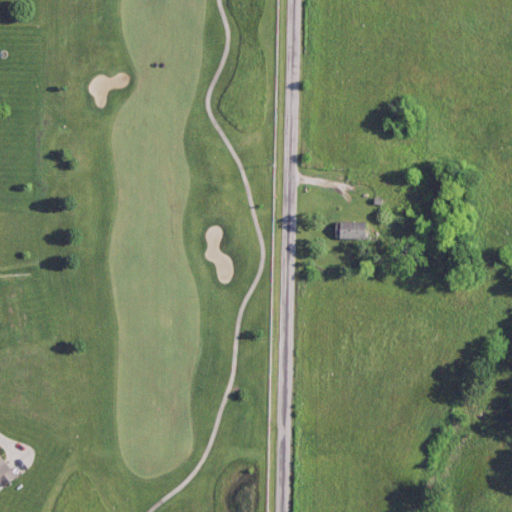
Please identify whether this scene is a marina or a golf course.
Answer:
golf course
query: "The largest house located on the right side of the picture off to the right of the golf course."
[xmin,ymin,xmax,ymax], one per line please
[336,222,370,240]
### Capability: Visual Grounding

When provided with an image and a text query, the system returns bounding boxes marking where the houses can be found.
[336,222,370,240]
[0,460,18,490]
